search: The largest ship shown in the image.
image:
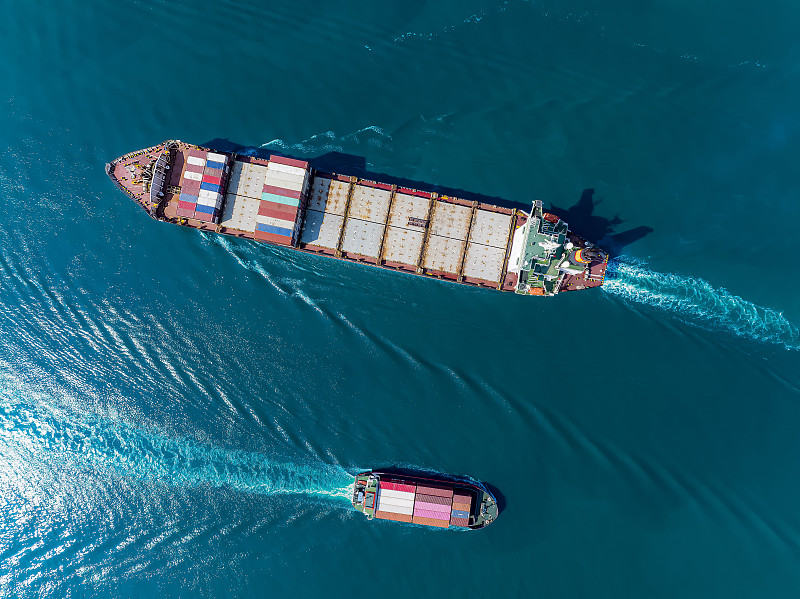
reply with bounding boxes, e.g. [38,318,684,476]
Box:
[104,140,609,298]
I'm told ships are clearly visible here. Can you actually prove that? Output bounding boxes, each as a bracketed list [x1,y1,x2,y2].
[104,140,609,298]
[352,467,499,530]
